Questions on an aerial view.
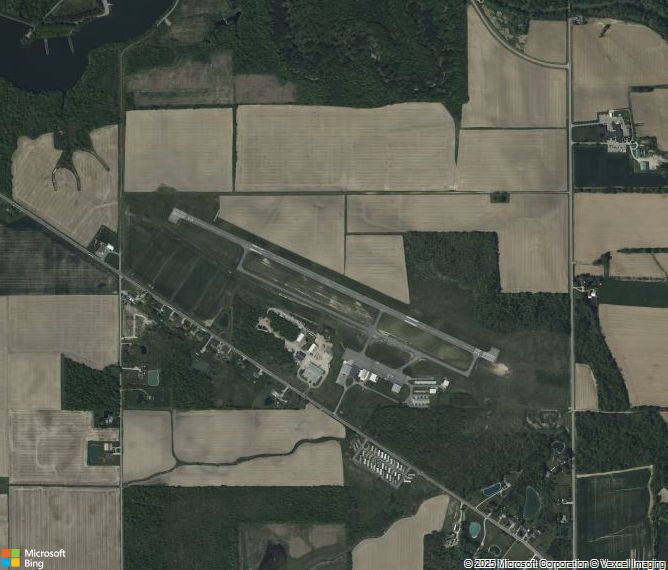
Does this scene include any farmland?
Yes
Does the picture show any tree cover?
Yes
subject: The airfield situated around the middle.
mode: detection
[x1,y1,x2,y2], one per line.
[168,207,500,415]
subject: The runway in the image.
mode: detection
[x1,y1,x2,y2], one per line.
[168,207,500,362]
